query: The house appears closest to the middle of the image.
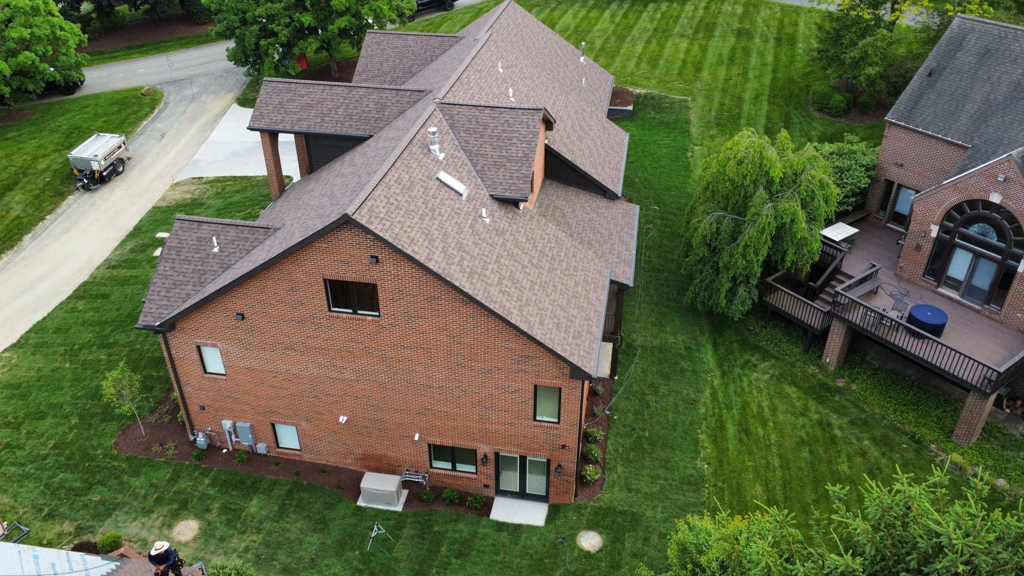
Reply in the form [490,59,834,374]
[130,0,644,504]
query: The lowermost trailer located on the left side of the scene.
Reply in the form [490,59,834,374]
[60,125,136,186]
